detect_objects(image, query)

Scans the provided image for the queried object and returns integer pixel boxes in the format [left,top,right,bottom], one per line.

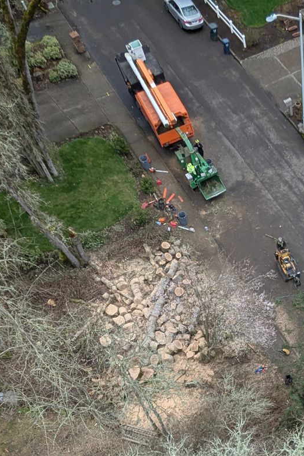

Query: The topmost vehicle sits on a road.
[161,0,201,28]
